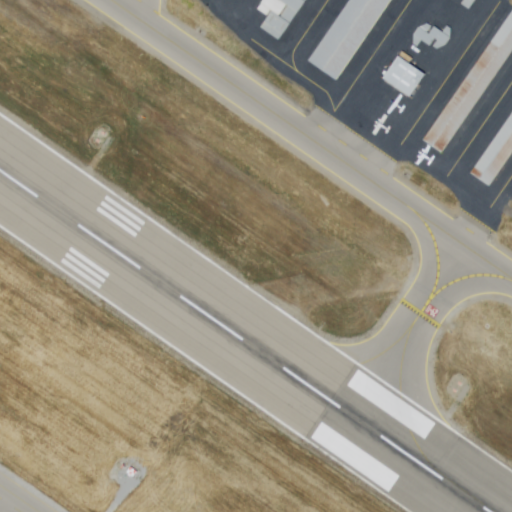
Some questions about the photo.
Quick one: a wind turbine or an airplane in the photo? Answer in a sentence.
I can see an airplane in this picture.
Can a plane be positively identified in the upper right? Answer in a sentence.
Yes, you'll find a plane in the upper right.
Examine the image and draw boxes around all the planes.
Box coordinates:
[388,94,405,114]
[416,146,434,166]
[374,114,391,135]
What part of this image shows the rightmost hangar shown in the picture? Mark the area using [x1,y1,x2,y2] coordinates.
[470,112,512,186]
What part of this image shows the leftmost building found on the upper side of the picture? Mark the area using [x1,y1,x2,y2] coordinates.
[257,0,307,40]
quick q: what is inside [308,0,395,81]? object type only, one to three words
hangar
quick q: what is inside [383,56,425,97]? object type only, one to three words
hangar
